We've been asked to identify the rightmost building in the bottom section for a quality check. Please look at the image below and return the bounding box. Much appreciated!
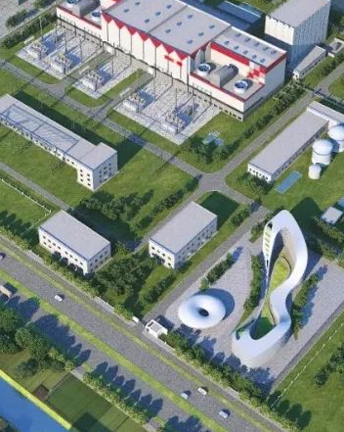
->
[229,211,308,367]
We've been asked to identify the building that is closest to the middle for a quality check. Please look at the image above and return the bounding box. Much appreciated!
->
[149,204,217,266]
